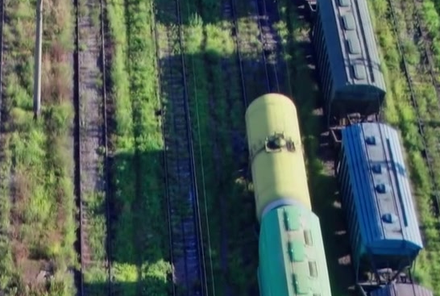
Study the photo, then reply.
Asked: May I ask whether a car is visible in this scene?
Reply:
No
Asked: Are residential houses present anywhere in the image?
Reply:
No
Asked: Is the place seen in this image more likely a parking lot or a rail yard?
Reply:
rail yard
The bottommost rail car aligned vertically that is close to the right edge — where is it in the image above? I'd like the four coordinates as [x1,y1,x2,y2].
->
[335,122,422,296]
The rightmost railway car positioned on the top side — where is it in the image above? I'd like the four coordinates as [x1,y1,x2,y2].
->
[312,0,389,158]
